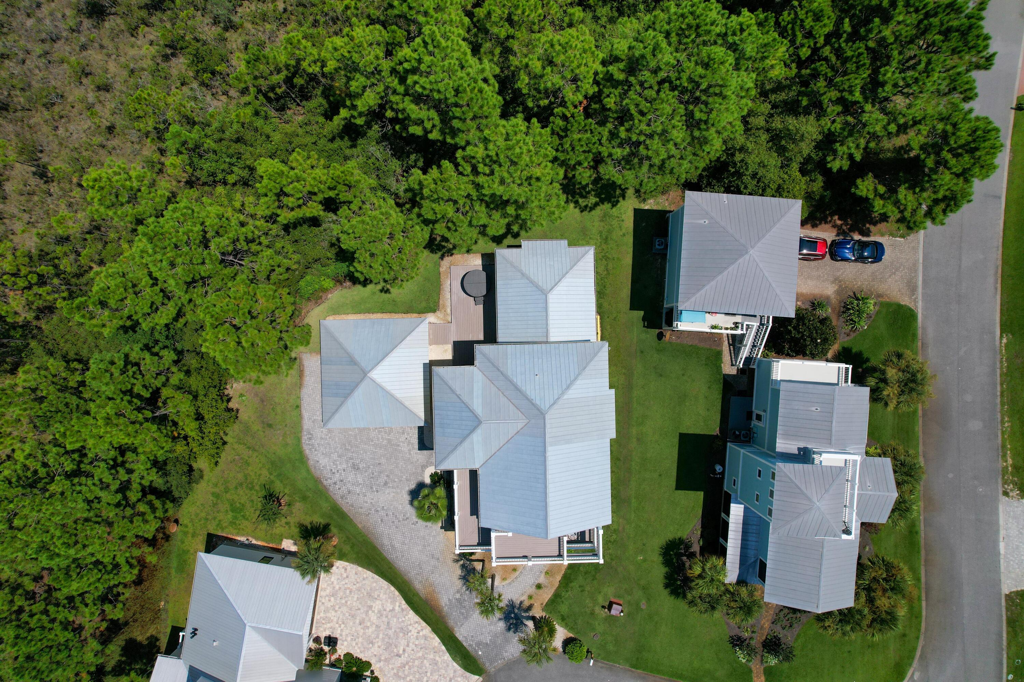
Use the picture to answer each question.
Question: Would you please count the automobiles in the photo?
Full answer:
The photo contains 2 automobiles.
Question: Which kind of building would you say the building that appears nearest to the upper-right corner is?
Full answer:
From above, the building that appears nearest to the upper-right corner can be identified as a residential house.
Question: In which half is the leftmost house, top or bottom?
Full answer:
The leftmost house sits in the bottom half of the picture.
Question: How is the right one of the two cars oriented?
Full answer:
The right one of the two cars has been laid out from side to side relative to the frame.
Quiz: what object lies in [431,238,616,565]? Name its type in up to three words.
house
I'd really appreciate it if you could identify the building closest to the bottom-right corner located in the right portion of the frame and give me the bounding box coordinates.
[718,357,898,613]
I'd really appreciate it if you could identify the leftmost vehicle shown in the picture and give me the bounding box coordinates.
[798,234,829,260]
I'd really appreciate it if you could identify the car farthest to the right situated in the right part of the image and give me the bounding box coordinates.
[827,237,887,265]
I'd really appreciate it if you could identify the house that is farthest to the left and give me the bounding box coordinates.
[149,540,344,682]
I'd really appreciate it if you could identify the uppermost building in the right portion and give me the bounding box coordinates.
[662,189,803,377]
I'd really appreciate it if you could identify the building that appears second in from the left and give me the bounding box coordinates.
[319,316,432,429]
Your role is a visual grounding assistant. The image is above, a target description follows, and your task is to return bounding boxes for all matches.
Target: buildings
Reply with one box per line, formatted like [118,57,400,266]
[662,189,803,377]
[149,540,344,682]
[718,357,898,613]
[319,316,432,429]
[431,238,616,565]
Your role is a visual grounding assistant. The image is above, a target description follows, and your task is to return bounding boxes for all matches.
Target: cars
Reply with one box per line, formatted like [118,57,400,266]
[827,237,887,265]
[798,234,829,260]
